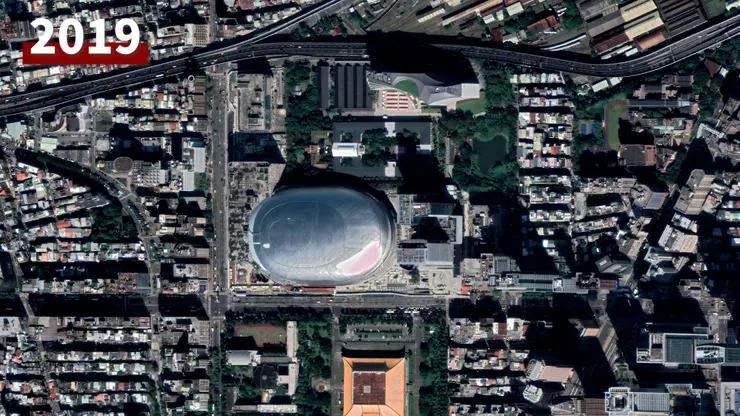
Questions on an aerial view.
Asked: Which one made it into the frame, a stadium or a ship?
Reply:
stadium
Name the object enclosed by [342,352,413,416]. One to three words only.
building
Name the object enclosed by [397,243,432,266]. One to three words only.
building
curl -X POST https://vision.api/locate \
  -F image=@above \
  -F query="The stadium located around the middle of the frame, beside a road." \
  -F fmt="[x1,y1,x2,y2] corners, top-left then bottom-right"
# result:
[248,187,407,290]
